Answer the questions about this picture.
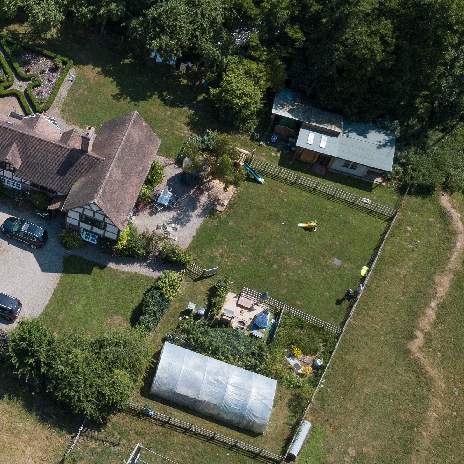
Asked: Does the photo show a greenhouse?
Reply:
Yes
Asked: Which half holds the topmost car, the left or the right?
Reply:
left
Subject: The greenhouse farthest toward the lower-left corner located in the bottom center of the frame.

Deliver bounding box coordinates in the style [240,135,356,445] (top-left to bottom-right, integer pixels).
[150,340,278,434]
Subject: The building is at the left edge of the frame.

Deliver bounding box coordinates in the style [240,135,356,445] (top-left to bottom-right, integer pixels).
[0,109,161,248]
